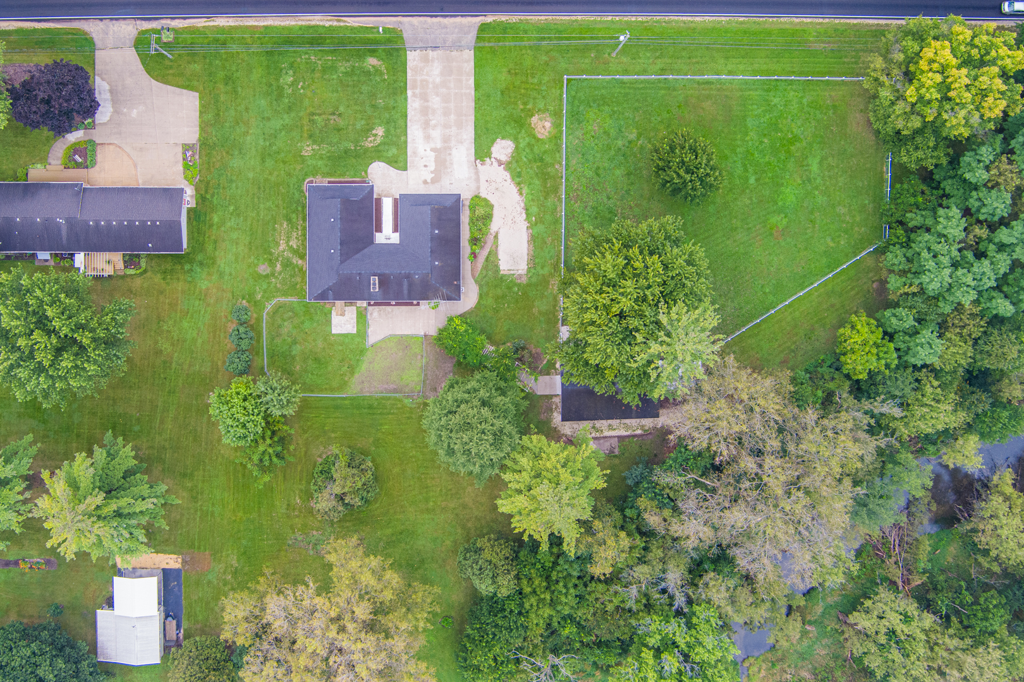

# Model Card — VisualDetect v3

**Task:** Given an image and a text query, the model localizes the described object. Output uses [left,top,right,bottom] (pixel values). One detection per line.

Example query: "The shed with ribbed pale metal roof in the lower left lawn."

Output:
[97,608,162,664]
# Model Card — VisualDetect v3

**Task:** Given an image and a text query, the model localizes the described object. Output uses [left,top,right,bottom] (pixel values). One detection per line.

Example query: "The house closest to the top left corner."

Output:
[0,182,187,253]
